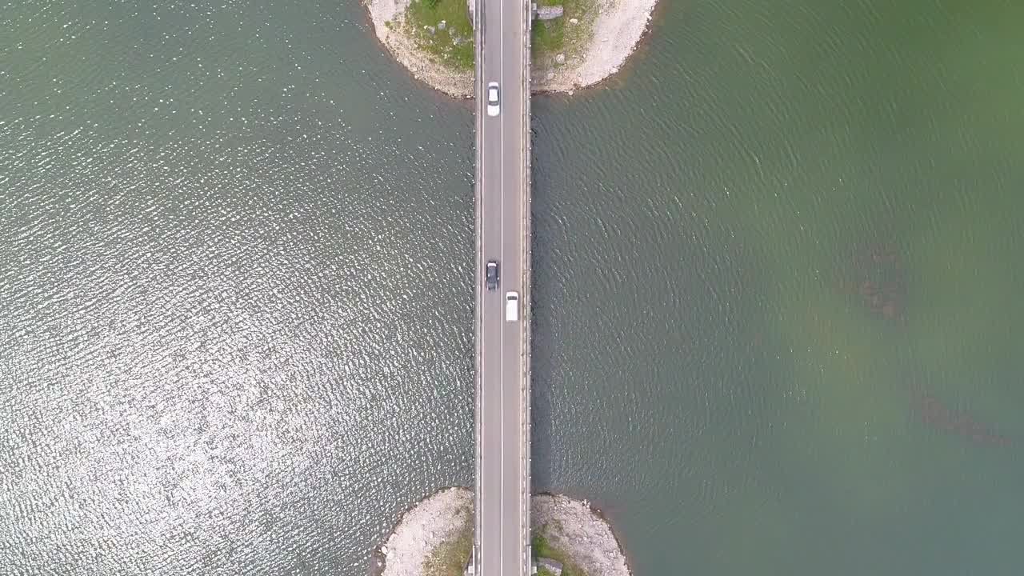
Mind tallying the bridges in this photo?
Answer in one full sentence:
Altogether the scene contains 1 bridge.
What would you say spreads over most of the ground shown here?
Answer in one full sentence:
For the most part, this view shows water.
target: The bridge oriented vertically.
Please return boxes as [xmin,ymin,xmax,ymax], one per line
[473,25,532,548]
